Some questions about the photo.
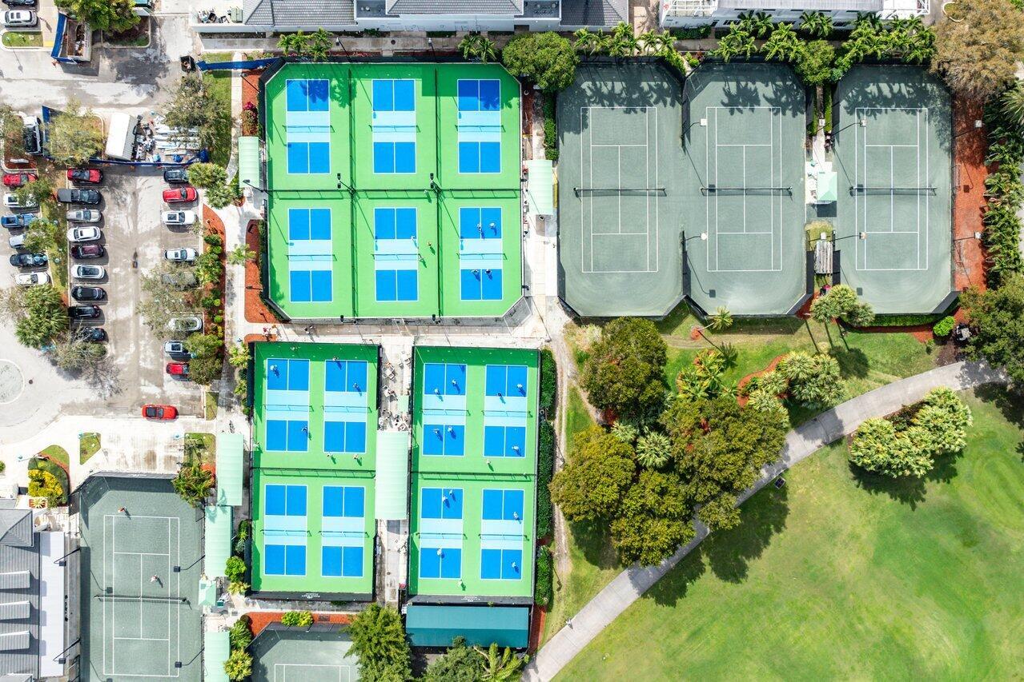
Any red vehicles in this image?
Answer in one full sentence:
Yes, the picture does show a red vehicle.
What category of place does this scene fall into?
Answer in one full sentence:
The area seen from above is a sports ground.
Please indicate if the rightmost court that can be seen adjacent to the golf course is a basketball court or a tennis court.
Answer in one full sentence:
The rightmost court that can be seen adjacent to the golf course in the image is a tennis court.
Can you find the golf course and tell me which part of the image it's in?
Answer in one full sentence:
Look in the bottom right portion of the view to spot the golf course.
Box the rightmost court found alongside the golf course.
[834,65,951,313]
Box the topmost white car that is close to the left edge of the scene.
[1,9,37,26]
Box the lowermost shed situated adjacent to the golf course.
[406,602,529,649]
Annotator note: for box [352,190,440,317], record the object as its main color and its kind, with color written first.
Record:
green sports court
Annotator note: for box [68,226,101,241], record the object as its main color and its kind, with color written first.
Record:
white car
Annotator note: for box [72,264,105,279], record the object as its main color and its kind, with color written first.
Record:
white car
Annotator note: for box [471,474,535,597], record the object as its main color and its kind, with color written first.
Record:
green sports court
